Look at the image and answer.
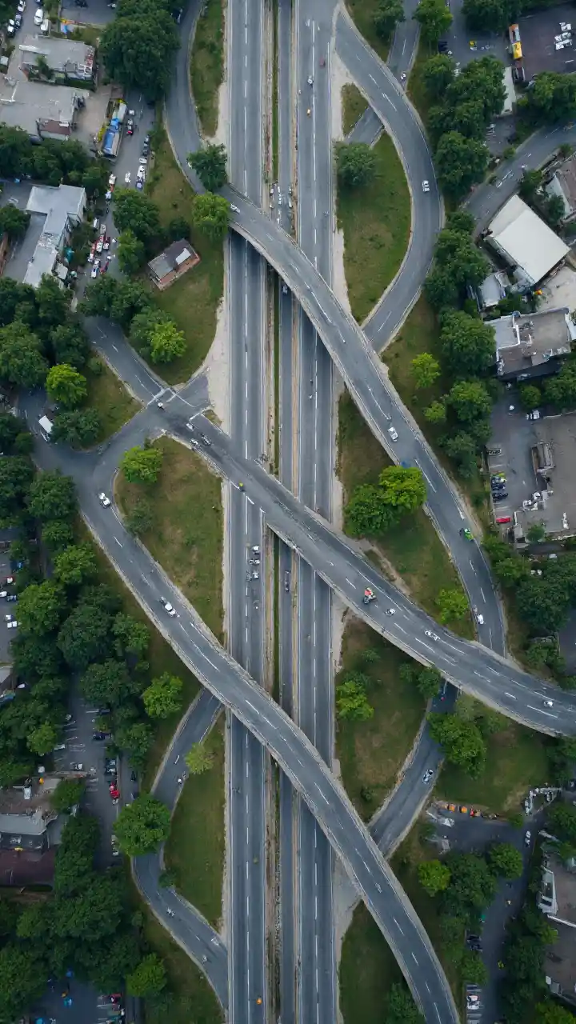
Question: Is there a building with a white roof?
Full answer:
Yes, a building with a white roof can be made out from above.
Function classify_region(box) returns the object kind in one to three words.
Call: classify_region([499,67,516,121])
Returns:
building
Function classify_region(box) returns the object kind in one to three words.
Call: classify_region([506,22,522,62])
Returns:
vehicle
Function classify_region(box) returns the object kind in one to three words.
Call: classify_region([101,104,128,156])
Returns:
truck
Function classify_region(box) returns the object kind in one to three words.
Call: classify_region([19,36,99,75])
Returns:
house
